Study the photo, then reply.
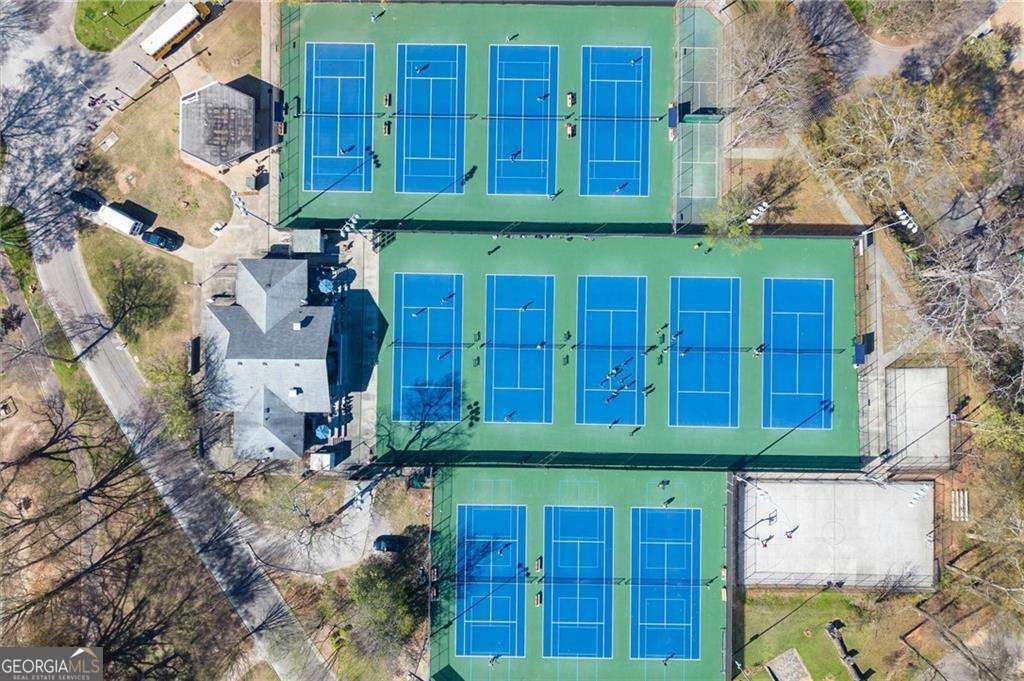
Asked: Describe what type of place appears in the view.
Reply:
sports ground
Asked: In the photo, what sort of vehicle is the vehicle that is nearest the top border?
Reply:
bus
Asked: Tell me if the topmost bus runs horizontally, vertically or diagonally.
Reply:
diagonally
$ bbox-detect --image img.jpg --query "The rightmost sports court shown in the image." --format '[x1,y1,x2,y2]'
[887,366,951,471]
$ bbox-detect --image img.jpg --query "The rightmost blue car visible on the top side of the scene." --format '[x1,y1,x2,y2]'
[143,229,178,250]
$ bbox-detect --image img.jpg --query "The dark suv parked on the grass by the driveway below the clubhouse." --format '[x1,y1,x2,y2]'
[374,536,406,552]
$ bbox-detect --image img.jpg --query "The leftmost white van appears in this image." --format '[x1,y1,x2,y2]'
[94,204,142,234]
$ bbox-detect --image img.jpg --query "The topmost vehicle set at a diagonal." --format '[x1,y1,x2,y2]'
[141,2,210,64]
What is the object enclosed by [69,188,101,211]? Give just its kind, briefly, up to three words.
car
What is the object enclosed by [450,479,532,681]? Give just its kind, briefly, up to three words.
tennis court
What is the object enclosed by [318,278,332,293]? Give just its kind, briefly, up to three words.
umbrella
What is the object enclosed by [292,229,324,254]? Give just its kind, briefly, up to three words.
shed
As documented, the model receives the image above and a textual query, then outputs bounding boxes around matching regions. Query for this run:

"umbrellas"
[318,278,332,293]
[314,424,329,439]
